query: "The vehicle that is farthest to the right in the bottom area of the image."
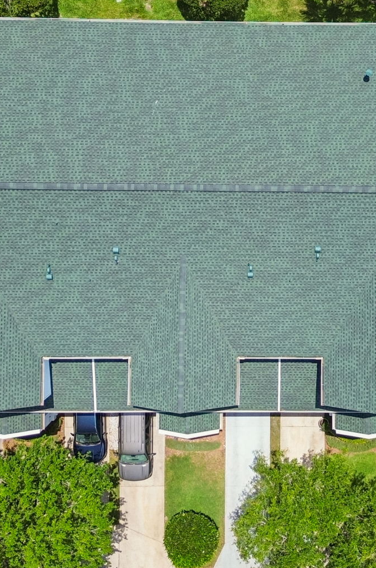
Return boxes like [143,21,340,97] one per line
[114,414,155,480]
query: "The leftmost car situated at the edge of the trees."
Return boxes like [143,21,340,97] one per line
[65,414,105,463]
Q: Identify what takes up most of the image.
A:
buildings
